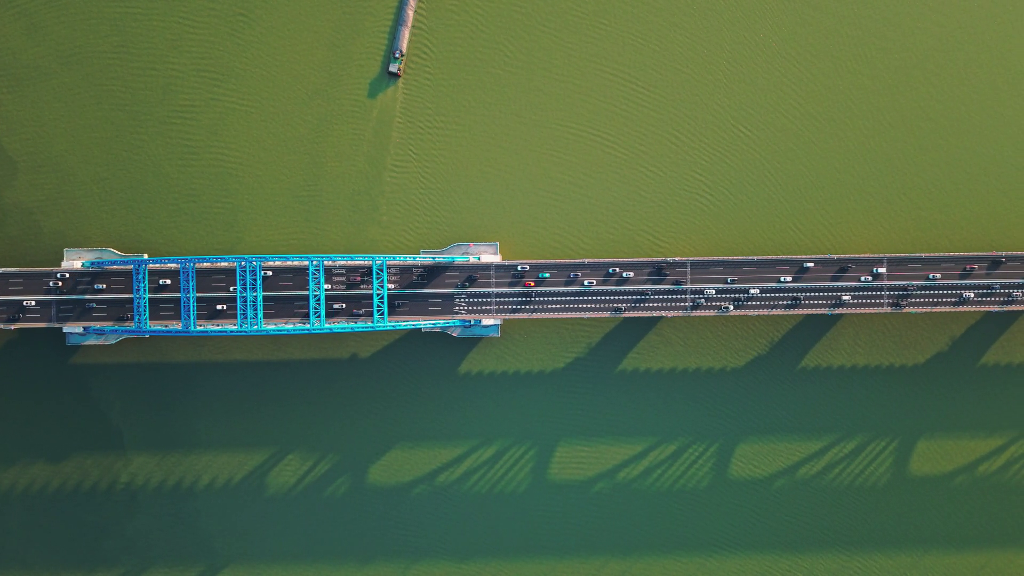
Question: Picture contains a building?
No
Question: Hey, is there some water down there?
Yes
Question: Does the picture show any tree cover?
No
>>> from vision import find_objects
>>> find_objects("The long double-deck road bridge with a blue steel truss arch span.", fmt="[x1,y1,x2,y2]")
[0,242,1024,344]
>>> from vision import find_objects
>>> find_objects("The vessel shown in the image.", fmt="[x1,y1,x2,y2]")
[387,0,418,77]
